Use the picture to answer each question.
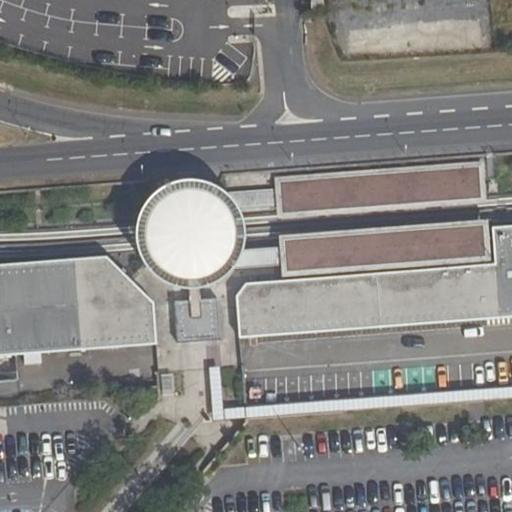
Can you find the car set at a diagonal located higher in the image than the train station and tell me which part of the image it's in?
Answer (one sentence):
The car set at a diagonal located higher in the image than the train station is in the top part of the image.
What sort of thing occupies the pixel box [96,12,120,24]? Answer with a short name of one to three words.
vehicle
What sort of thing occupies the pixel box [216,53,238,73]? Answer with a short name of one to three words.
car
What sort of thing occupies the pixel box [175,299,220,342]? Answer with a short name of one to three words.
building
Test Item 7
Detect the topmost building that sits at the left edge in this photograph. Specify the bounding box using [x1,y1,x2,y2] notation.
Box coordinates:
[0,256,156,366]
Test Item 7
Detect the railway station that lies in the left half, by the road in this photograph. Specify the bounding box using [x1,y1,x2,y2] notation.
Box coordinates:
[135,178,246,290]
